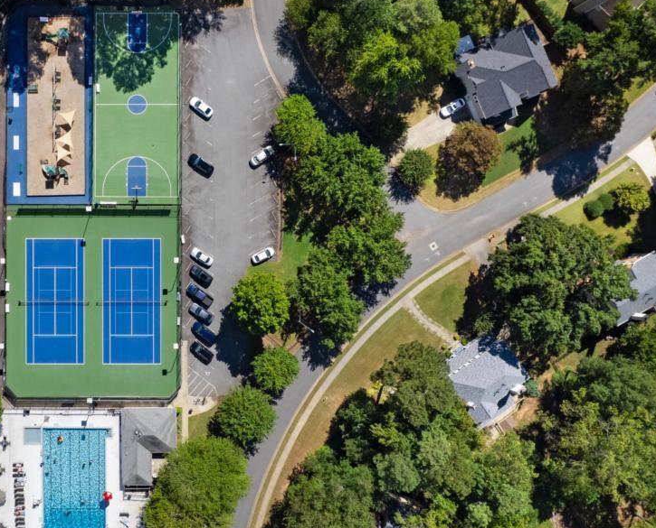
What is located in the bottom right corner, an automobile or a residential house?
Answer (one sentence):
The one visible in the bottom right corner is a residential house.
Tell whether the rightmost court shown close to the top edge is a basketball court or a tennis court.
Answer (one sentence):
The rightmost court shown close to the top edge in the image is a basketball court.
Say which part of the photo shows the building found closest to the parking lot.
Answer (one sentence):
The building found closest to the parking lot appears toward the bottom left of the photo.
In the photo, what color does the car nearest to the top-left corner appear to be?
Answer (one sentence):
From above, the car nearest to the top-left corner appears white.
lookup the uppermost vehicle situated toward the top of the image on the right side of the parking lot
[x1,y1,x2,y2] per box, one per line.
[441,98,467,117]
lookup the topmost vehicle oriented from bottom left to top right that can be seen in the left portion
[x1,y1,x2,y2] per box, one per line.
[250,145,274,166]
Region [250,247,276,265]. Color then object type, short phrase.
white car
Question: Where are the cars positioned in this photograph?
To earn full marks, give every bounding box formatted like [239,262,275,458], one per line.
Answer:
[189,265,213,285]
[189,154,213,174]
[441,98,467,117]
[189,247,214,267]
[250,145,274,166]
[192,324,217,345]
[250,247,276,265]
[189,98,214,118]
[189,304,214,324]
[189,342,214,363]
